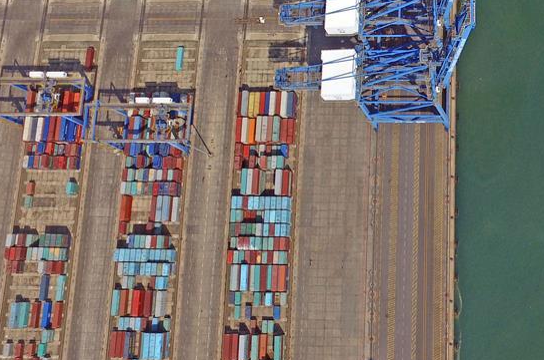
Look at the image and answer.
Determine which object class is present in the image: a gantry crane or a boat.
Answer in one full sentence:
Of the two, only a gantry crane appears.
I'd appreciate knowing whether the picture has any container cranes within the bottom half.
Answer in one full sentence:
No, there's no container crane to be seen within the bottom half.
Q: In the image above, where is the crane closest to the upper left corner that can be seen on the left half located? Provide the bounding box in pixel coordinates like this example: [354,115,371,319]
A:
[0,69,101,130]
